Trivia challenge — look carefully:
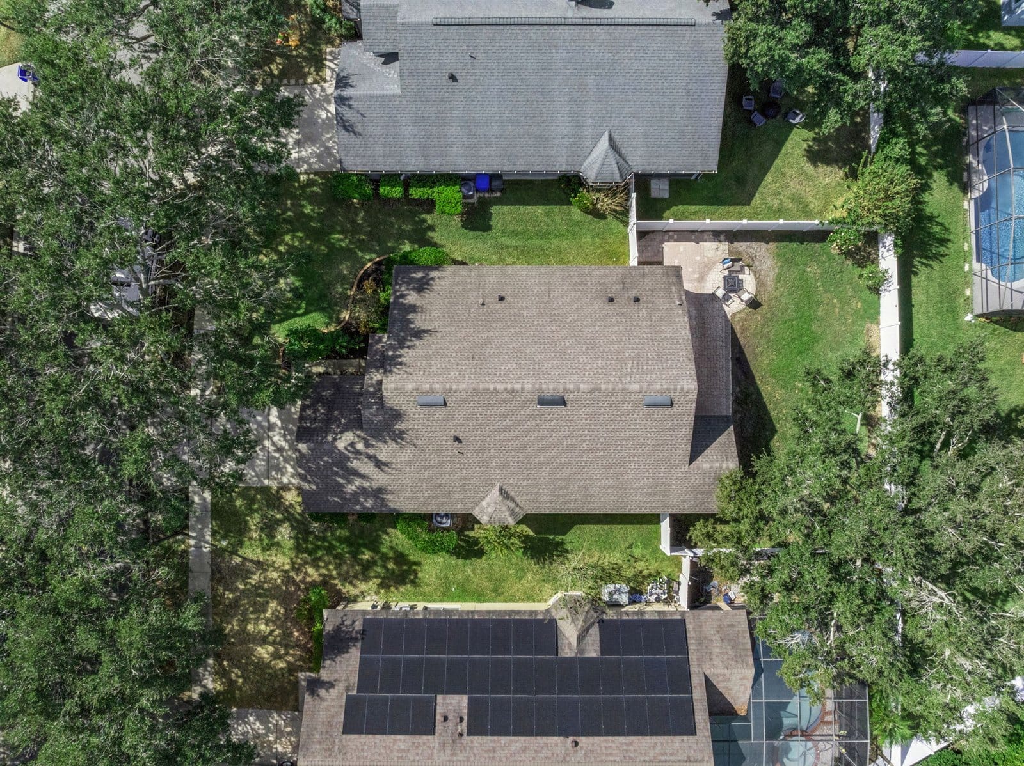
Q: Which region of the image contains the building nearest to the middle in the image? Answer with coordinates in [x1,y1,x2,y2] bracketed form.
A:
[295,267,739,525]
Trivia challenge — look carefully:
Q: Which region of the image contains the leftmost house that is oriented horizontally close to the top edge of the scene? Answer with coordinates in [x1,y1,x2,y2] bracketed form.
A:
[335,0,732,192]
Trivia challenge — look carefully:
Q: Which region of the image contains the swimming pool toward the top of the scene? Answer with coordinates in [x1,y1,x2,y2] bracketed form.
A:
[973,124,1024,285]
